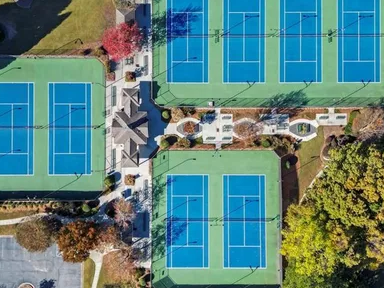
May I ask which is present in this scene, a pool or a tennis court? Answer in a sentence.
I can see a tennis court in this picture.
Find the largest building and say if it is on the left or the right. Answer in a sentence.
It is on the left.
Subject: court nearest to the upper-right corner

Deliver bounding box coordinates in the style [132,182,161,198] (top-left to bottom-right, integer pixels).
[338,0,381,83]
